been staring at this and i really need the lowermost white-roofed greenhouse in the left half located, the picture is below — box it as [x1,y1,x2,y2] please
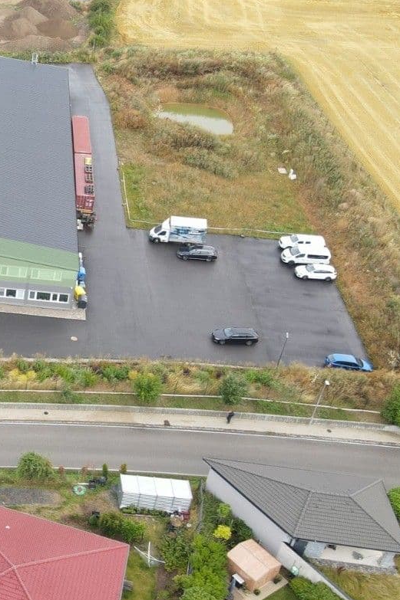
[116,474,193,514]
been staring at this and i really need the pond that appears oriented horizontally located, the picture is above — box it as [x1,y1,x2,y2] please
[154,103,236,135]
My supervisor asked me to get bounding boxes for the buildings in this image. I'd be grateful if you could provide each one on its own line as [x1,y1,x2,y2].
[202,457,400,574]
[226,540,280,593]
[116,474,193,514]
[0,55,83,309]
[0,507,131,600]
